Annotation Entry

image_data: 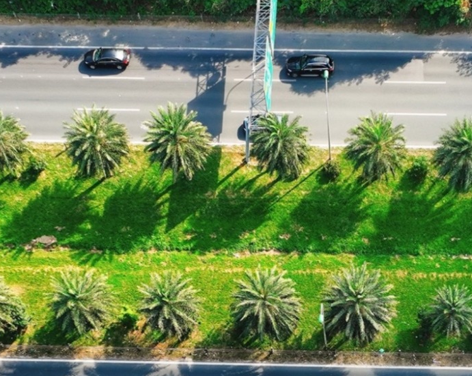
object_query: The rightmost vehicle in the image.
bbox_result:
[287,56,335,80]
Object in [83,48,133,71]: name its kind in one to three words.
car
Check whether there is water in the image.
No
